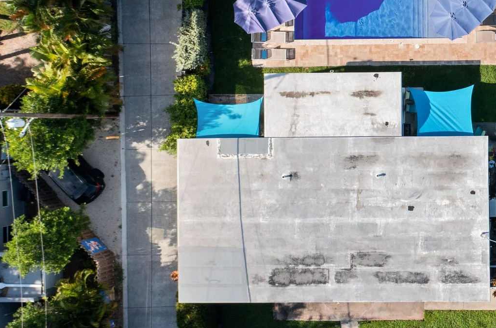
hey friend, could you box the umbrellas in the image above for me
[431,0,496,40]
[233,0,308,33]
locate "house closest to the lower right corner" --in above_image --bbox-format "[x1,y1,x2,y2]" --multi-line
[178,70,490,307]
